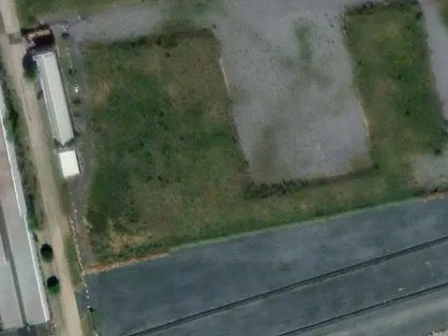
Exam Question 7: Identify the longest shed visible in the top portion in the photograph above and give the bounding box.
[33,52,74,144]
